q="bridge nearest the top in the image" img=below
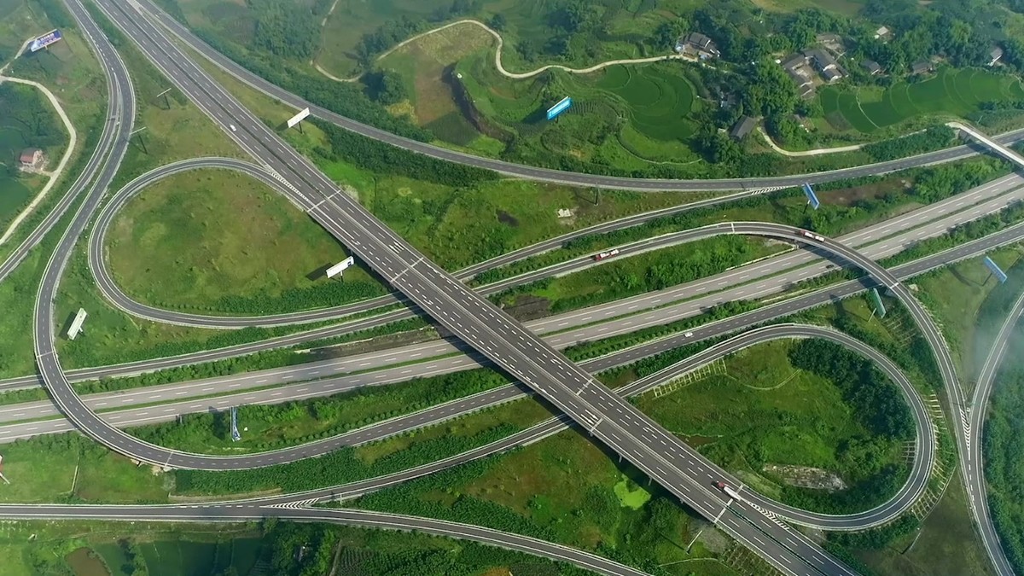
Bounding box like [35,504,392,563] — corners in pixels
[944,121,1024,173]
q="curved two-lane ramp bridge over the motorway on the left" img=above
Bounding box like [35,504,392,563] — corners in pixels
[35,349,174,468]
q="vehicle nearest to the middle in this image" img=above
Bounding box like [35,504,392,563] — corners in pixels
[595,248,620,260]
